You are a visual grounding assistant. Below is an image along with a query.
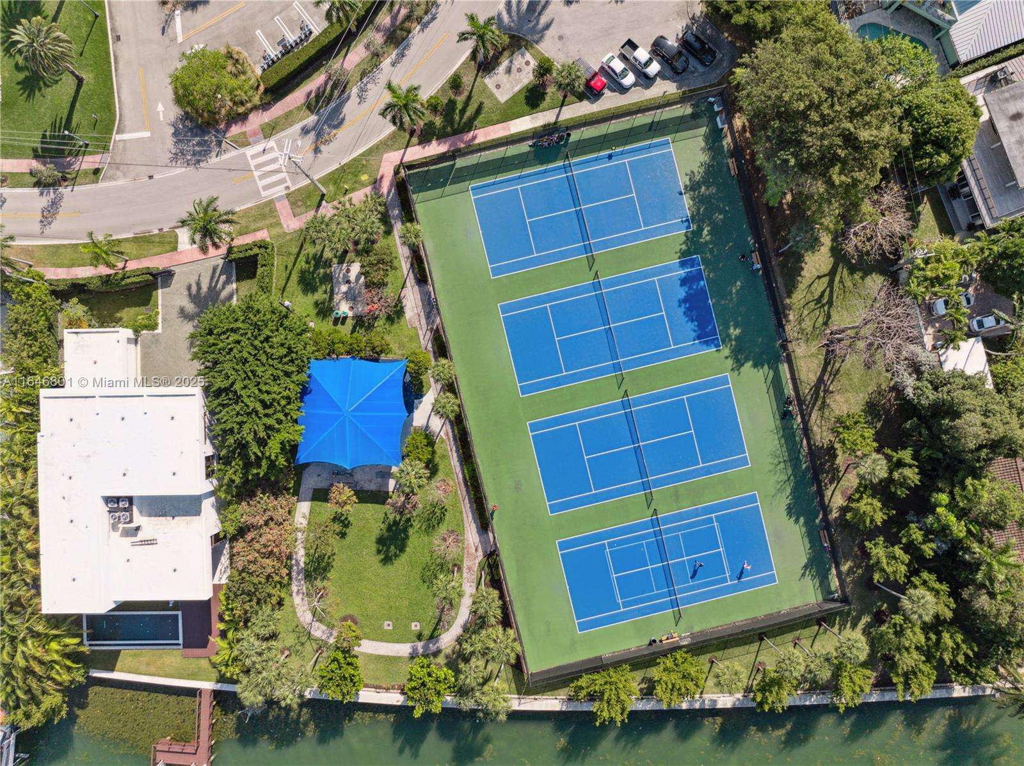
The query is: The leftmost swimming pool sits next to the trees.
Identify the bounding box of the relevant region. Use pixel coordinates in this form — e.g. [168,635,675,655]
[81,611,183,650]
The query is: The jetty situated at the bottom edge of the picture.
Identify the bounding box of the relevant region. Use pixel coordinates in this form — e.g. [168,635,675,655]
[148,690,218,766]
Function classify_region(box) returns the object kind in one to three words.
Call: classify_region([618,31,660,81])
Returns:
truck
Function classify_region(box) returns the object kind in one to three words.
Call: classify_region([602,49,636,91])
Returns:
car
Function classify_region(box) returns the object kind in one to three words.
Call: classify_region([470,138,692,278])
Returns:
tennis court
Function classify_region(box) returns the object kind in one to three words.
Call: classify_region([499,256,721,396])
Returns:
tennis court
